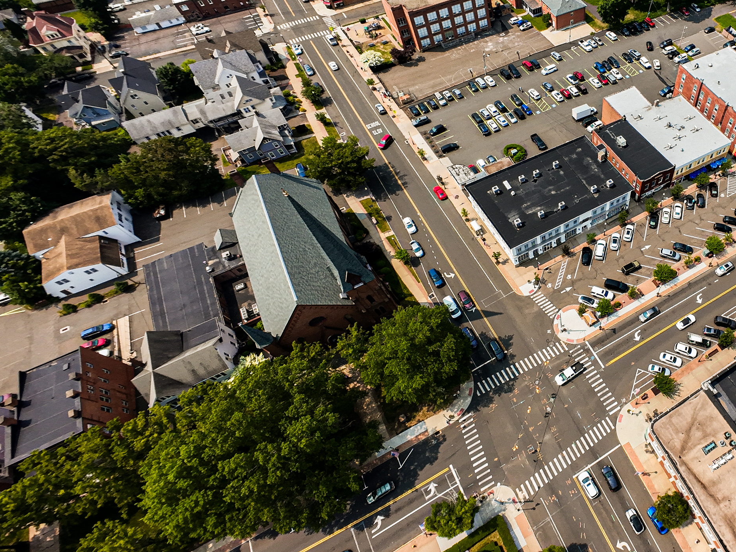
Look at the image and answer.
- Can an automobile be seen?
Yes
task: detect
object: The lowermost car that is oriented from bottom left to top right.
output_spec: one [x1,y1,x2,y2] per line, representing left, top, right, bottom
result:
[364,479,396,507]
